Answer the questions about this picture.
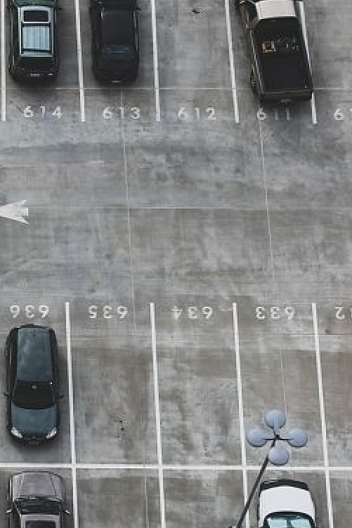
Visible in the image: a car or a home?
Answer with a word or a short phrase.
car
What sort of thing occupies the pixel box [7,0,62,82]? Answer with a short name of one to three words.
car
